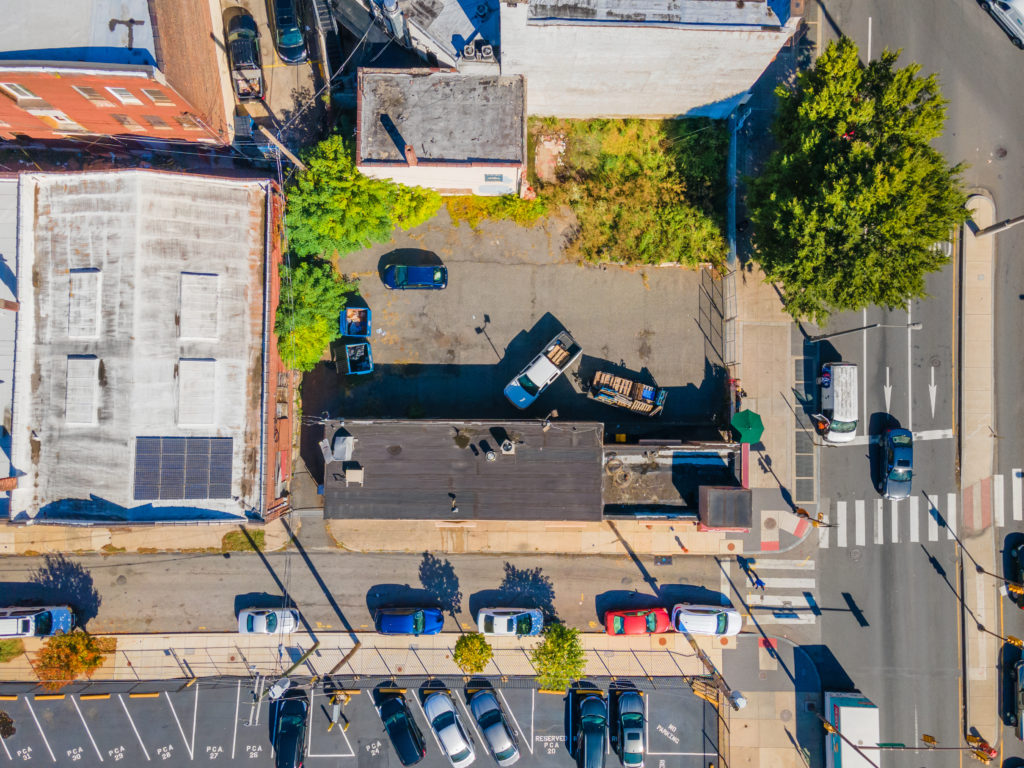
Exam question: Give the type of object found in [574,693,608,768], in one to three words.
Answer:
car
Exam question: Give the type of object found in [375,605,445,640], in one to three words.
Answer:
car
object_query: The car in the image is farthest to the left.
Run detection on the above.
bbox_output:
[0,605,80,637]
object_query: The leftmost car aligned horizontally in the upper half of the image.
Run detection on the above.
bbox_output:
[384,261,448,292]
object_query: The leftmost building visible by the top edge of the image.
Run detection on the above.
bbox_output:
[0,0,229,143]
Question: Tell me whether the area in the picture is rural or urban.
urban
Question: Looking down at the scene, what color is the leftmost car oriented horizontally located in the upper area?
blue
